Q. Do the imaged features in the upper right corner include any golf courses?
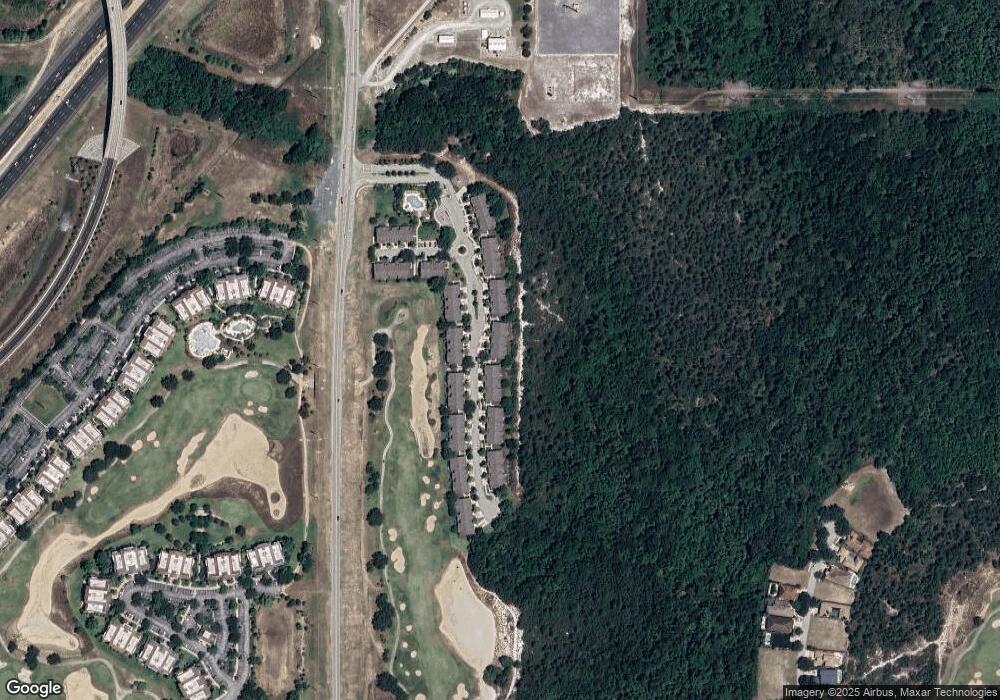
No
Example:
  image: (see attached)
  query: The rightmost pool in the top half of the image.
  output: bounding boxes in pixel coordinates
[403,191,427,211]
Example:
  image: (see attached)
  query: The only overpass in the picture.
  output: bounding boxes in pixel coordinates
[77,0,140,163]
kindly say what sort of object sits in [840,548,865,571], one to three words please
house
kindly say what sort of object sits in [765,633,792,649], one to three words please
house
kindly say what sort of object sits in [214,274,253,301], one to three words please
building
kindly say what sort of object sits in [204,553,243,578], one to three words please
building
